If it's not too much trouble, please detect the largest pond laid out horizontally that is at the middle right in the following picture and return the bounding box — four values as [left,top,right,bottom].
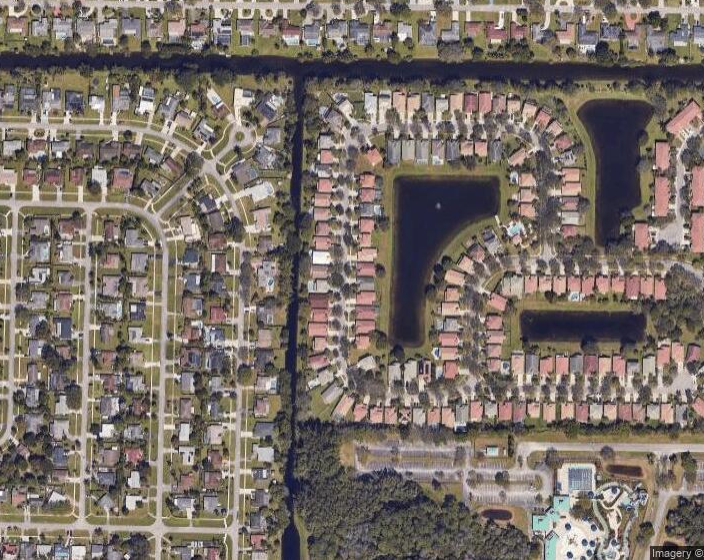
[521,311,646,341]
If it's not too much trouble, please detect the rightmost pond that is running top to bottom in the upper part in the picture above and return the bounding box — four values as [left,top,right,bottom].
[580,99,650,245]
